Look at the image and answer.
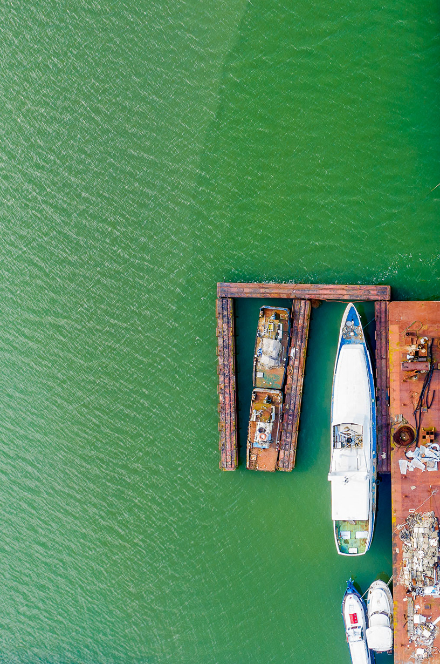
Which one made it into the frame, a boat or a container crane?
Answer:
boat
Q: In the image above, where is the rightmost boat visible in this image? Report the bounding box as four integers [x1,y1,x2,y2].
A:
[366,579,393,656]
